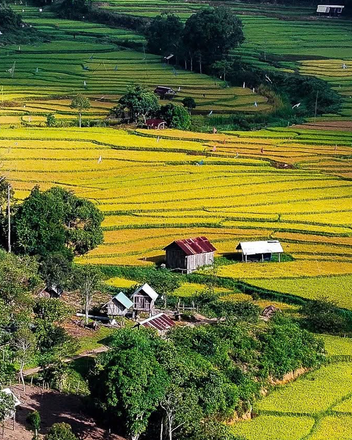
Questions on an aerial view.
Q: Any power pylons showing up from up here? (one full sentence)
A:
No, there appears to be no power pylon in this shot.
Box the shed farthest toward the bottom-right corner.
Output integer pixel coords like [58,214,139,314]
[239,240,286,262]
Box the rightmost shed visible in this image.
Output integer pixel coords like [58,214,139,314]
[317,0,348,18]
